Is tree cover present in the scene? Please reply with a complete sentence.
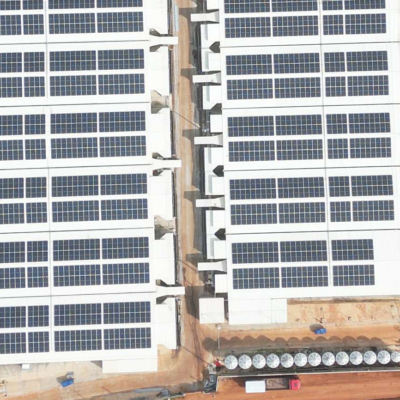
No, the picture contains no tree cover.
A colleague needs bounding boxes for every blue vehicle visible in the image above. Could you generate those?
[315,327,329,336]
[61,378,77,388]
